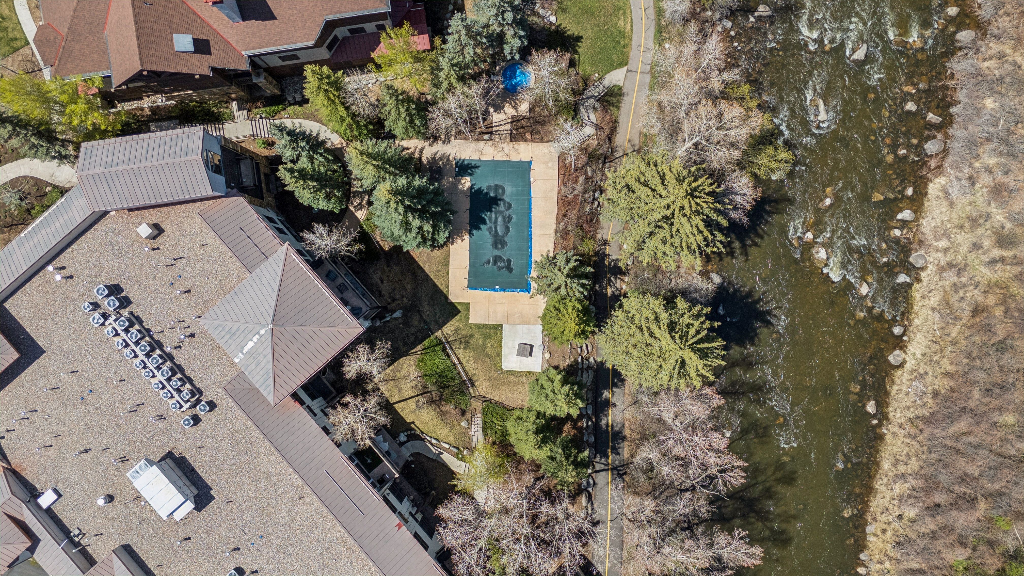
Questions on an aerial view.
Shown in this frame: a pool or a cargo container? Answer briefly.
pool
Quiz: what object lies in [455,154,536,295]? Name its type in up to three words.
swimming pool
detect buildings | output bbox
[33,0,429,97]
[0,125,470,576]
